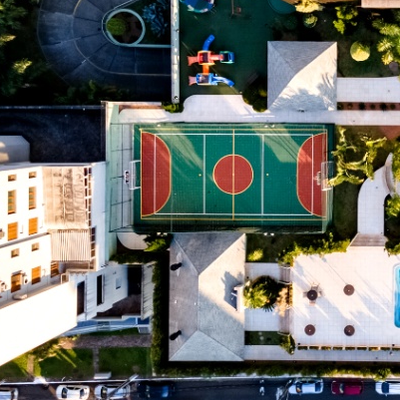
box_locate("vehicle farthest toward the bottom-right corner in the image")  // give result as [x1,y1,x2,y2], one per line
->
[375,382,400,396]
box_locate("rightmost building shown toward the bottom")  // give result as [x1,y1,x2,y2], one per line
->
[166,233,256,361]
